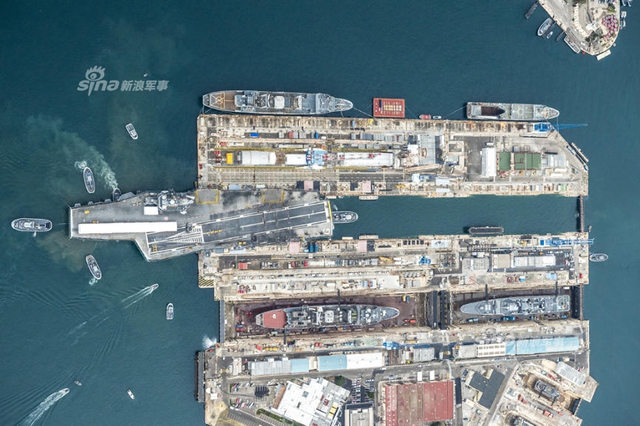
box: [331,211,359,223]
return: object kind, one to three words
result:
boat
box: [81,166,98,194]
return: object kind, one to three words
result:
boat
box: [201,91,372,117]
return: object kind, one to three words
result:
ship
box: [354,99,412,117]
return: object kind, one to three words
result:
ship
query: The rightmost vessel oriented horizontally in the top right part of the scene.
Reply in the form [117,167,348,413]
[446,102,559,129]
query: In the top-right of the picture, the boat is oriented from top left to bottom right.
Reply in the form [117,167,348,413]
[564,36,581,54]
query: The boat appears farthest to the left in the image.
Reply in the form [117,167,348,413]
[11,218,52,233]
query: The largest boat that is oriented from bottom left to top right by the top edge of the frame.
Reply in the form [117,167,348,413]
[538,19,552,35]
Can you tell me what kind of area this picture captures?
port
